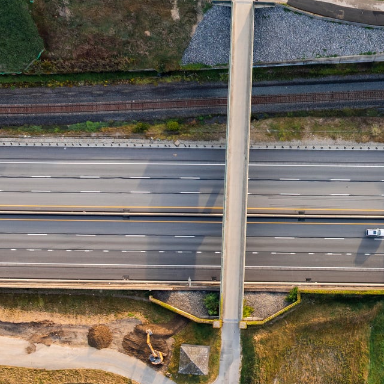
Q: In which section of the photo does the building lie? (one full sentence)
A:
You can find the building in the bottom area of the picture.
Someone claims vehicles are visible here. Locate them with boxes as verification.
[366,228,384,237]
[144,329,163,369]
